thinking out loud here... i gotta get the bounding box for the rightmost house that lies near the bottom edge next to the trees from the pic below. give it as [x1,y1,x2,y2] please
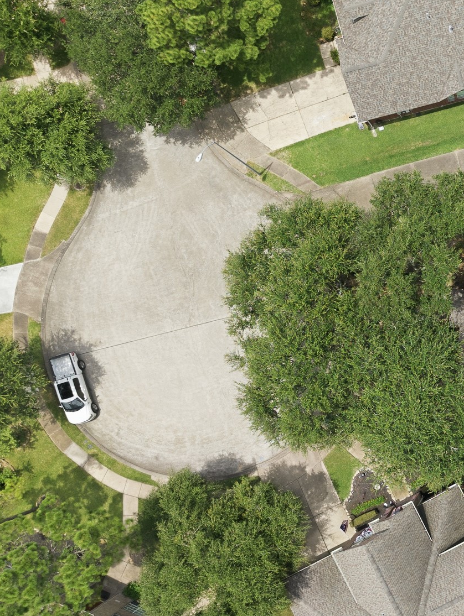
[283,481,464,616]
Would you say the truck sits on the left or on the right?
left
